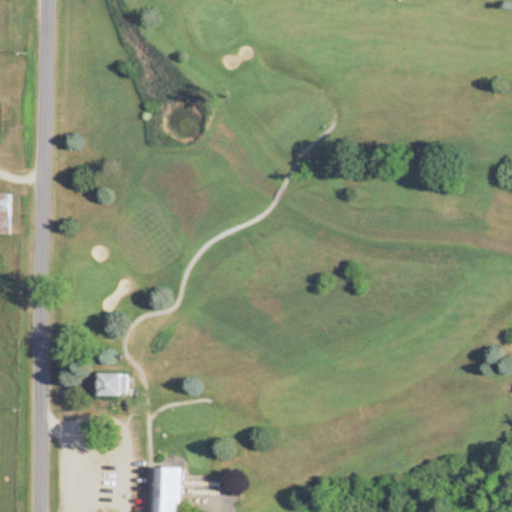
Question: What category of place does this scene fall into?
golf course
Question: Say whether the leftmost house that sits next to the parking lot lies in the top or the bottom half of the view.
bottom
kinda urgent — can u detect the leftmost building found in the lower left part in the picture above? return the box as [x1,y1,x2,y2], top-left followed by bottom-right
[95,374,134,397]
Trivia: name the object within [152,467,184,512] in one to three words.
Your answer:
building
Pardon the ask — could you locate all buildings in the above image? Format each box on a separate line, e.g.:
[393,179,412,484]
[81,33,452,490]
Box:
[152,467,184,512]
[95,374,134,397]
[0,193,14,235]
